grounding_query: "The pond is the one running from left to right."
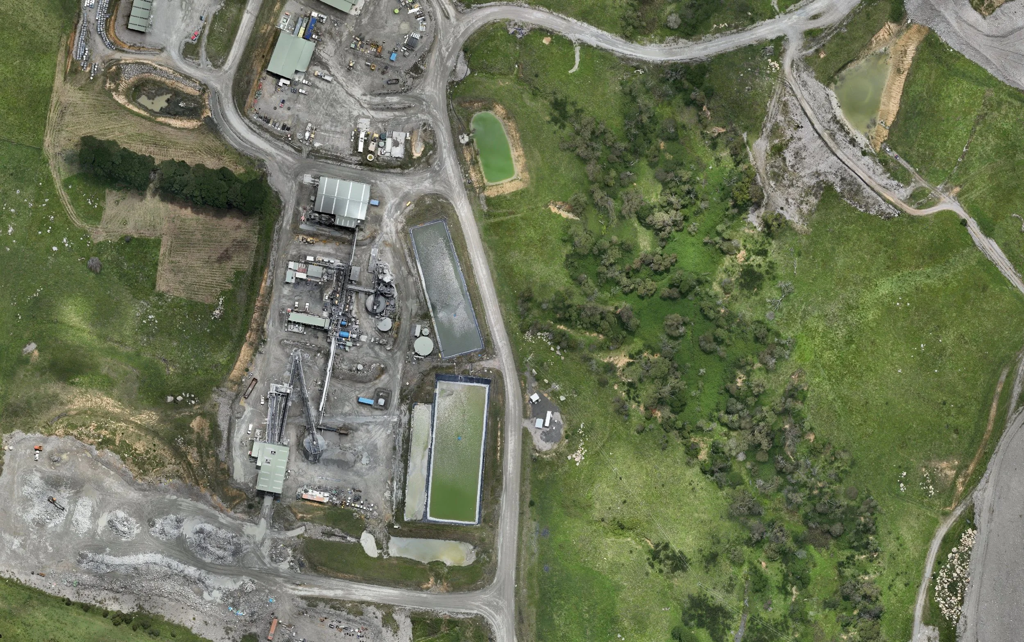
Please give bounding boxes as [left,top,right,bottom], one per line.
[389,534,478,568]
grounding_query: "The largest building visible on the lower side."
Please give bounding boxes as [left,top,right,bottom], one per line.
[254,443,289,496]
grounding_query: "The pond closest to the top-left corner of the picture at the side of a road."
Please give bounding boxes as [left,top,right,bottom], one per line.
[410,219,484,360]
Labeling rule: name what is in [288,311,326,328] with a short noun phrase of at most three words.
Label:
building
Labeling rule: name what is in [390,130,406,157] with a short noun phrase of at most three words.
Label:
shed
